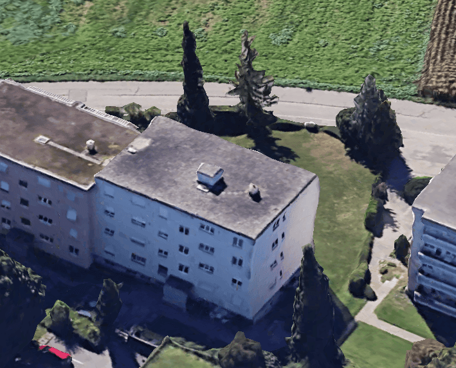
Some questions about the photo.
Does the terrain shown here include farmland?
Yes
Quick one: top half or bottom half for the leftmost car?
bottom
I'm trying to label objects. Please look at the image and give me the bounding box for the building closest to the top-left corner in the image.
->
[0,80,150,271]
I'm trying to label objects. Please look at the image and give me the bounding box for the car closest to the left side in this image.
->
[34,344,73,368]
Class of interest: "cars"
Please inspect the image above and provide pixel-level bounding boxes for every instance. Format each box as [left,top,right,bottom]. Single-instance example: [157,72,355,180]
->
[71,293,98,315]
[34,344,73,368]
